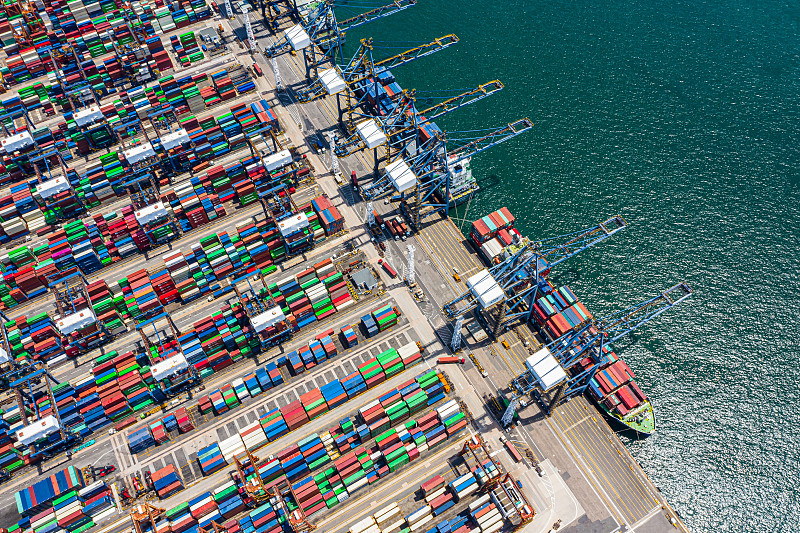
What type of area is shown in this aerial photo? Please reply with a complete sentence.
The picture captures a port.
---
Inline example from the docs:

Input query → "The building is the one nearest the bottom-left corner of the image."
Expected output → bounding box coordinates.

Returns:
[352,266,377,290]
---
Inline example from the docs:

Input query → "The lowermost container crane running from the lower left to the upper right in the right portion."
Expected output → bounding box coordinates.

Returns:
[503,280,696,418]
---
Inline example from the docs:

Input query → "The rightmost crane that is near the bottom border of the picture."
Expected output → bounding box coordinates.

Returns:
[491,472,537,530]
